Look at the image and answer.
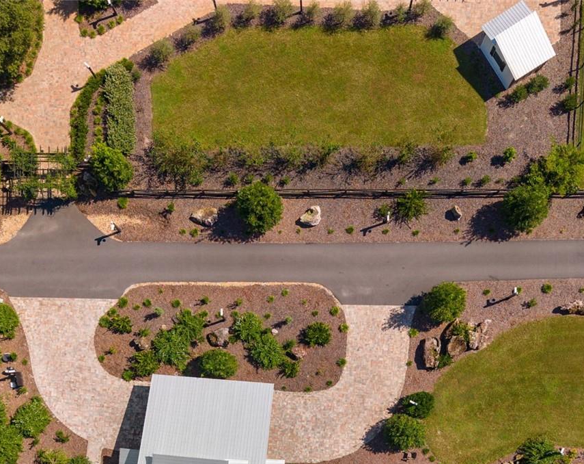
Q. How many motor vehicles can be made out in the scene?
0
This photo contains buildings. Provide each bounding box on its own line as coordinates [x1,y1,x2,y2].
[480,0,556,88]
[119,373,286,464]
